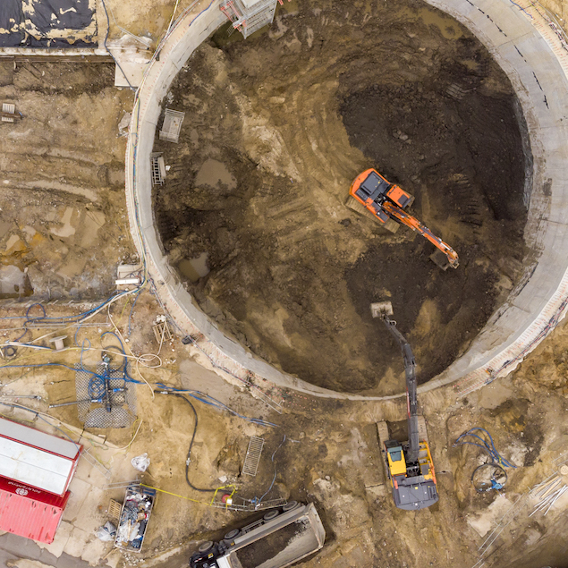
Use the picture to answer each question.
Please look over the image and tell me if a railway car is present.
No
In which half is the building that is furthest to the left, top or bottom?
bottom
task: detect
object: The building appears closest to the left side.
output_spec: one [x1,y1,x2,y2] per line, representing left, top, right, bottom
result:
[0,419,84,495]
